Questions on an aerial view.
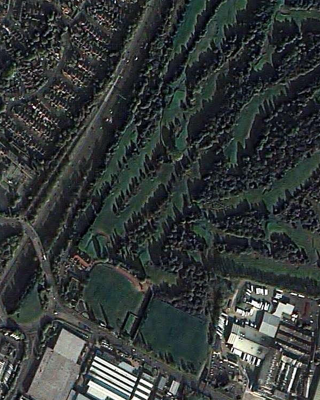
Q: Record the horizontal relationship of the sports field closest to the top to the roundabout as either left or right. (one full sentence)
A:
The sports field closest to the top can be seen on the right of the roundabout.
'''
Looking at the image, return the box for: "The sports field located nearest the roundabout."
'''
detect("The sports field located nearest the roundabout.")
[85,264,143,330]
